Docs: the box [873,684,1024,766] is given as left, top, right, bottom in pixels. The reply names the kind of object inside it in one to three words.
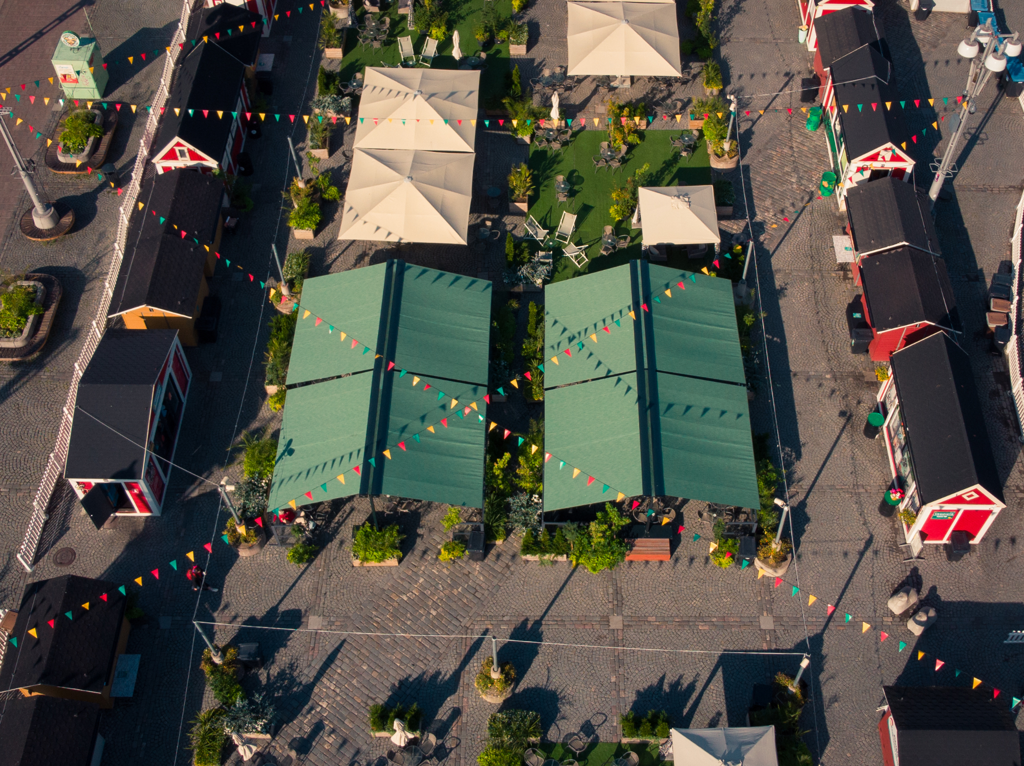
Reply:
shed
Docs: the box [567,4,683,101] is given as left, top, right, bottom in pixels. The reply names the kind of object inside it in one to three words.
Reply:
umbrella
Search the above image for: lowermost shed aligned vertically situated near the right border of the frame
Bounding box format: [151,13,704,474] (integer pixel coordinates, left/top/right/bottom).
[876,331,1009,544]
